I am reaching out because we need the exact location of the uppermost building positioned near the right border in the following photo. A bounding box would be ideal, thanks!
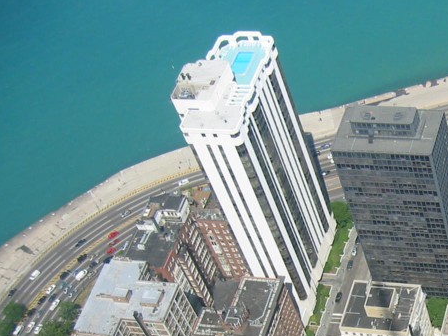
[330,103,448,302]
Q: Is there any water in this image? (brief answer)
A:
Yes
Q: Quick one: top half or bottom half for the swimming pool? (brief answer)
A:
top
